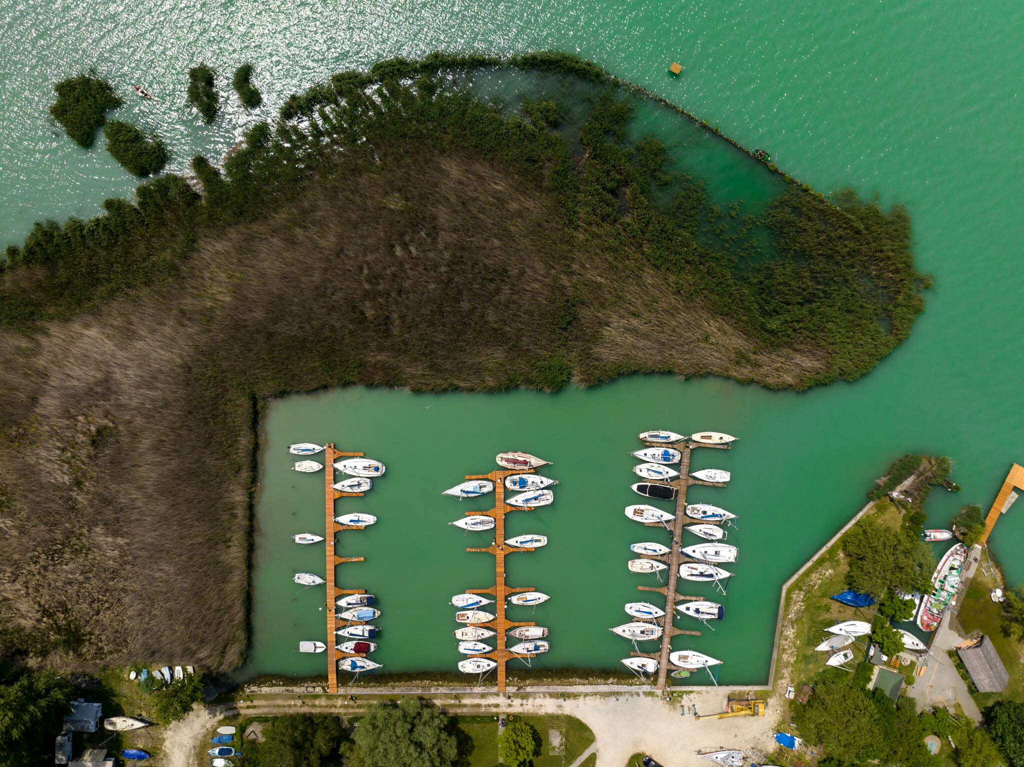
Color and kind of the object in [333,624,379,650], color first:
white boat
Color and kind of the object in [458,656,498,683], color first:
white boat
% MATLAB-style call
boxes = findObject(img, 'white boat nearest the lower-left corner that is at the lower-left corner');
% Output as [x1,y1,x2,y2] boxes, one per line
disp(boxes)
[97,713,148,749]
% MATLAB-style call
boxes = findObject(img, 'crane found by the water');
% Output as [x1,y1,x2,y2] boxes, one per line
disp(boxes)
[692,691,768,721]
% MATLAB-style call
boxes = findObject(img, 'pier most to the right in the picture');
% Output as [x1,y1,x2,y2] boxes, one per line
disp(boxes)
[977,464,1024,546]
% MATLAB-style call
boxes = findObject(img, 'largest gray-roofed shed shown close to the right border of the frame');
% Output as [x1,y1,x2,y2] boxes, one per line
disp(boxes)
[953,635,1009,692]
